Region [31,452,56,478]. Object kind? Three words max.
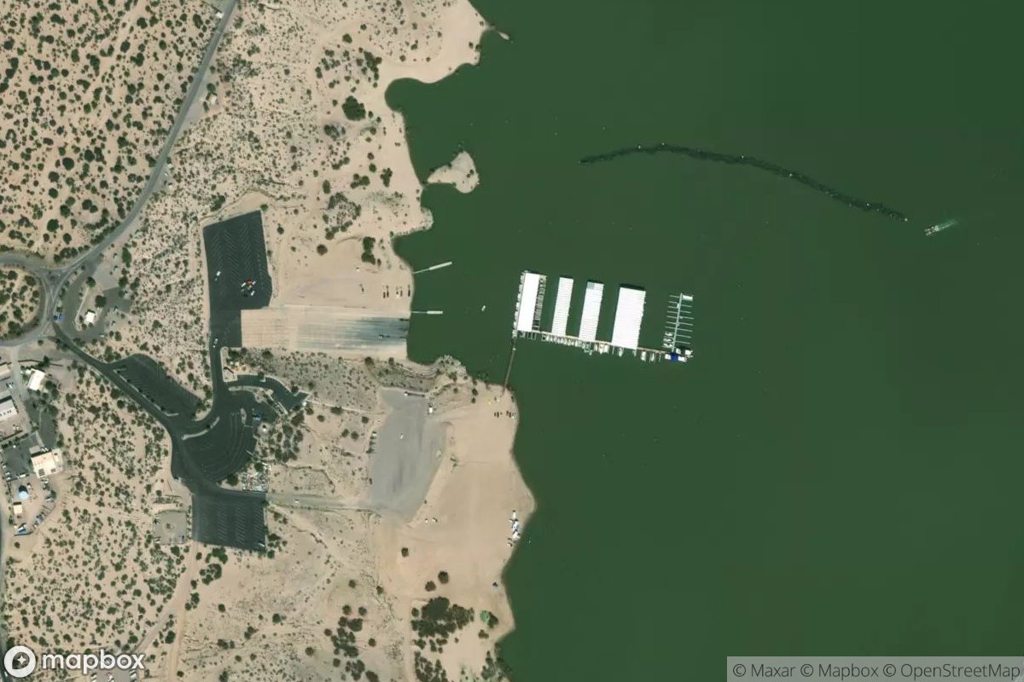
building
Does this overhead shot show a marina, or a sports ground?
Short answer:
marina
